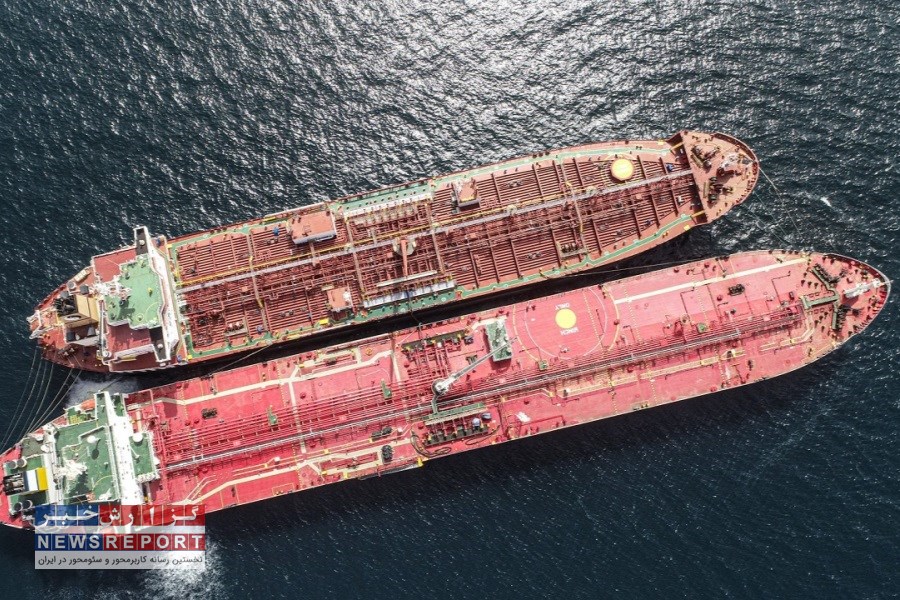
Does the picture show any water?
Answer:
Yes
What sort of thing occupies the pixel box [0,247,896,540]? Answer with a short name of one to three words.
ship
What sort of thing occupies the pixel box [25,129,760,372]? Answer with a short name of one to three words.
ship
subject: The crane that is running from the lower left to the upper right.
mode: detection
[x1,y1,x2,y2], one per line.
[430,335,519,398]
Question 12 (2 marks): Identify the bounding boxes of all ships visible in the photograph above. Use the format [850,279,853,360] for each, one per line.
[25,129,760,372]
[0,247,896,540]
